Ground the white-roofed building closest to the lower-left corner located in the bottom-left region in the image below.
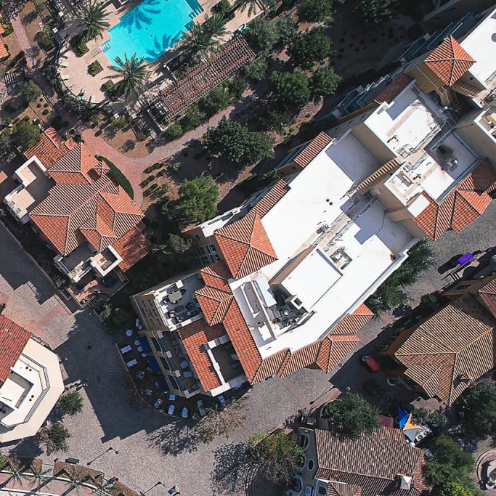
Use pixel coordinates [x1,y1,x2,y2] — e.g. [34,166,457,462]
[0,338,65,443]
